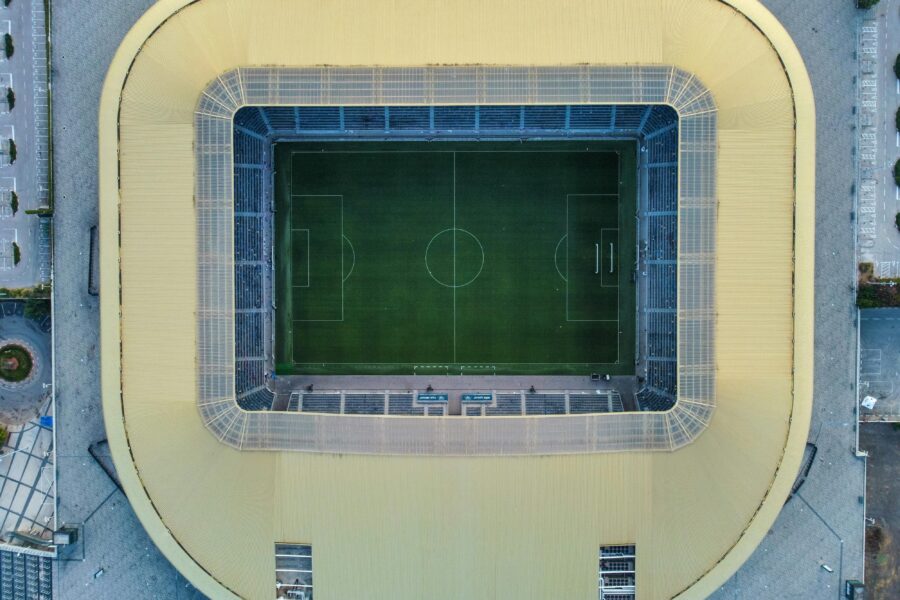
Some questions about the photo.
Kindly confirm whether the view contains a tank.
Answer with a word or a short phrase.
No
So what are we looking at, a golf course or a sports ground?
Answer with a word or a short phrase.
sports ground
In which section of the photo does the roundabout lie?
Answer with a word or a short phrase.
left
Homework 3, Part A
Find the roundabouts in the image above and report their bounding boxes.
[0,327,49,400]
